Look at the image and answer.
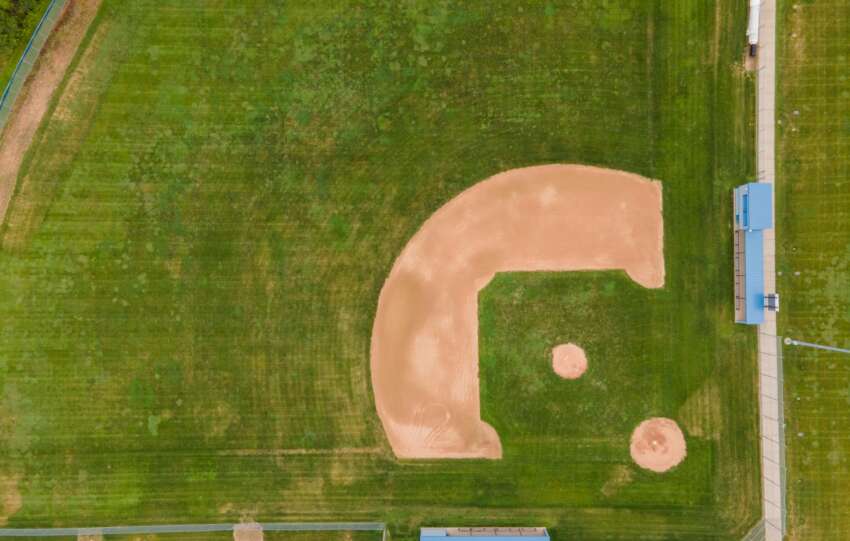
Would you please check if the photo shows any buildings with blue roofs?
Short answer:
Yes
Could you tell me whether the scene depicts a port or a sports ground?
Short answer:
sports ground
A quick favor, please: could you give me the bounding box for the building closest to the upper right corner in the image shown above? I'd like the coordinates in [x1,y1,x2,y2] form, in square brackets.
[735,183,773,232]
